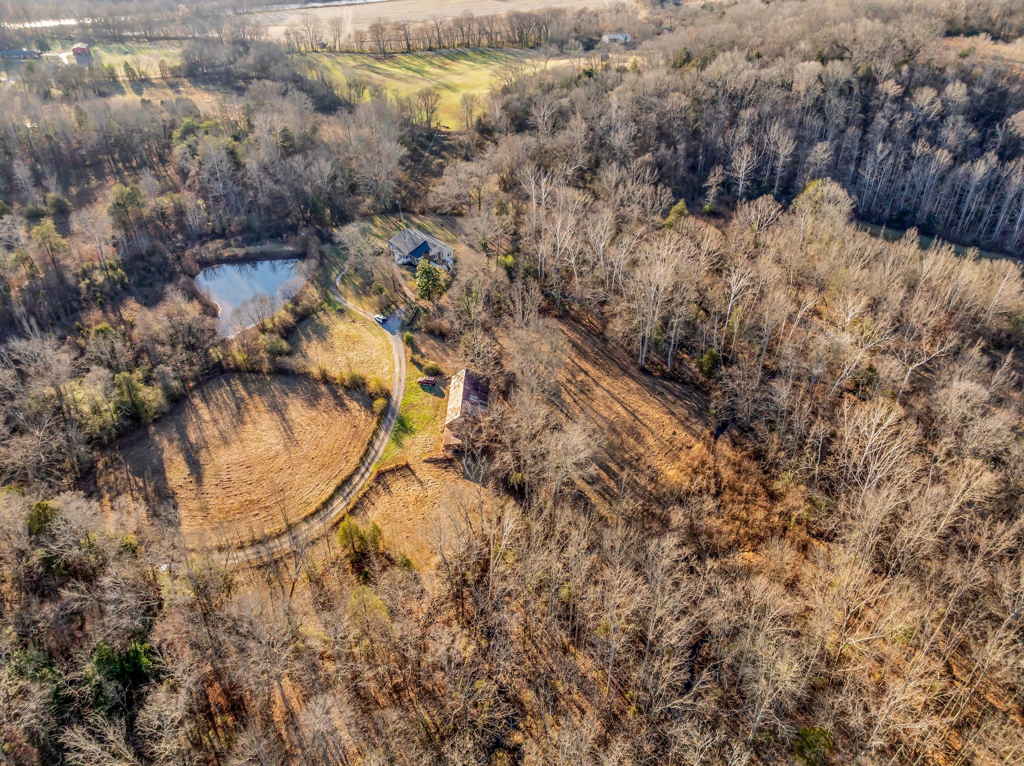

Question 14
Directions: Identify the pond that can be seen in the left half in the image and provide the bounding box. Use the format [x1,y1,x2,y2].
[188,256,312,343]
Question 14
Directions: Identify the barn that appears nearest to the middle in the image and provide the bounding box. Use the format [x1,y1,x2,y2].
[440,365,493,457]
